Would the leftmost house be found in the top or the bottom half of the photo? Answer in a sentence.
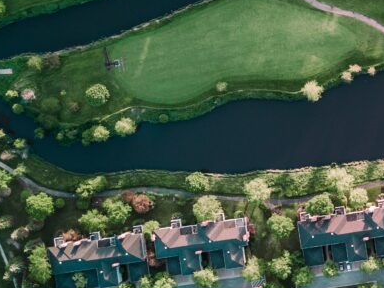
Seen from above, the leftmost house lies in the bottom half of the view.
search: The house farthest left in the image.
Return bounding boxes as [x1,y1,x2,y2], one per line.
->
[48,223,156,286]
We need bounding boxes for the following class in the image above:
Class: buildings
[48,223,156,286]
[153,208,254,273]
[298,194,384,261]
